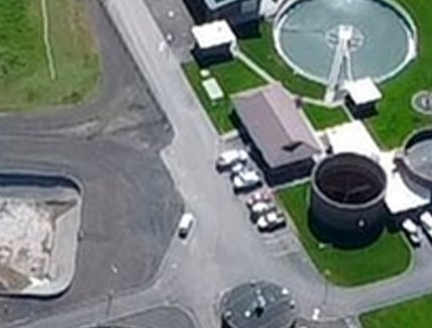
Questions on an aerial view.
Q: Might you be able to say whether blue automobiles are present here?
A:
No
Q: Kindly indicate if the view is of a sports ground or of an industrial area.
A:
industrial area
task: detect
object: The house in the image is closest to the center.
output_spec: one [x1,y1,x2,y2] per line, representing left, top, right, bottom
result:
[230,83,323,177]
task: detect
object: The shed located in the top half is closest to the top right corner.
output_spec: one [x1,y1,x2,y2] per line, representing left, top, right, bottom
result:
[345,78,382,112]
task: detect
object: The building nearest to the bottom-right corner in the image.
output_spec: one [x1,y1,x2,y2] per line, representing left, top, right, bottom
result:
[325,120,432,221]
